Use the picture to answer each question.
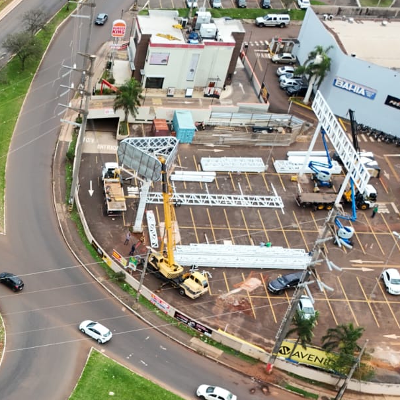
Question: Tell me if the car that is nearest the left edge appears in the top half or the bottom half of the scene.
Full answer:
Seen from above, the car that is nearest the left edge lies in the bottom half of the view.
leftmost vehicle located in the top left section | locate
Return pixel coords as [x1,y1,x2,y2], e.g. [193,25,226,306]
[95,11,109,25]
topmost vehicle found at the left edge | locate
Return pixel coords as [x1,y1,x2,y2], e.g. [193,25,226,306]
[0,271,26,291]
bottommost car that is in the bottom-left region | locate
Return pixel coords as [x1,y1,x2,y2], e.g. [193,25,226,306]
[79,319,114,344]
